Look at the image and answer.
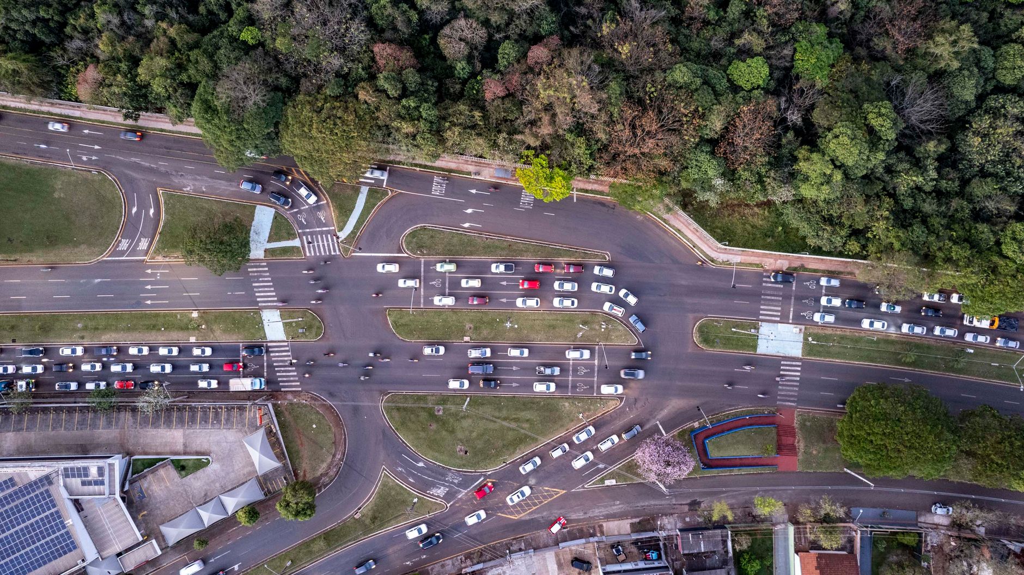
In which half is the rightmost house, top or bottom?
bottom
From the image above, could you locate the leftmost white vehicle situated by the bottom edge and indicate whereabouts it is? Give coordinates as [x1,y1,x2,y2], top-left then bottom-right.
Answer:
[179,555,207,575]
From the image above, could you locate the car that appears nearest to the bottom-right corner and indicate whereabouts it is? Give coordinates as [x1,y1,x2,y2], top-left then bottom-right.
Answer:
[931,500,953,514]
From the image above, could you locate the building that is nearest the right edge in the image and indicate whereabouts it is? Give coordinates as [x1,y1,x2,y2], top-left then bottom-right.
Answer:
[788,546,859,575]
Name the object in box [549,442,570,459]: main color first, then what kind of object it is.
white car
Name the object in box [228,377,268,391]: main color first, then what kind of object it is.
white vehicle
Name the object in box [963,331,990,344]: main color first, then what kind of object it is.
white vehicle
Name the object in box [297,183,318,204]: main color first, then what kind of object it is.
white truck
